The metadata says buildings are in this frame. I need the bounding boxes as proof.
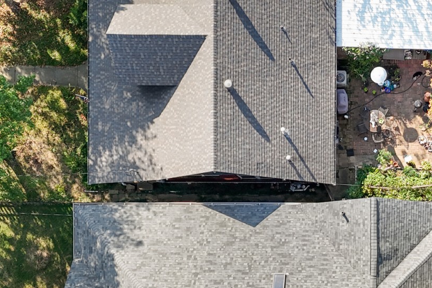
[64,195,432,288]
[86,0,339,188]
